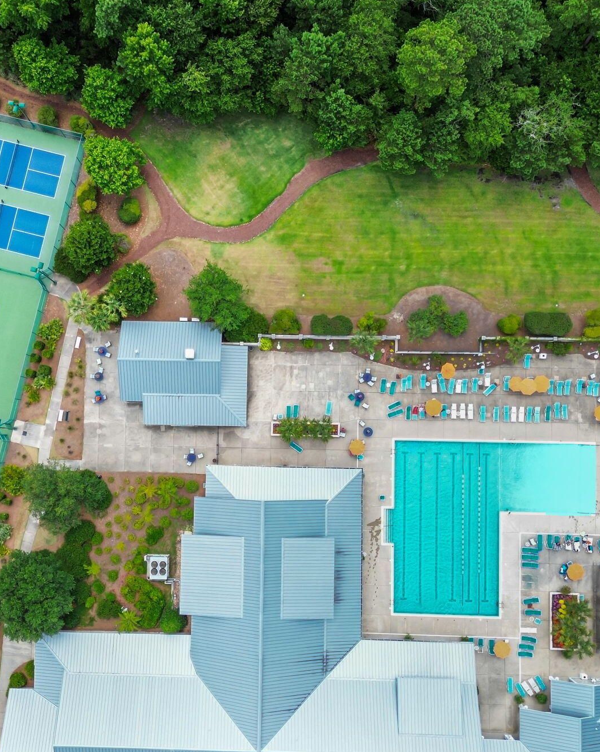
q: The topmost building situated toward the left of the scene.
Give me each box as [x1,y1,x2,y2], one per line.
[117,321,248,426]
